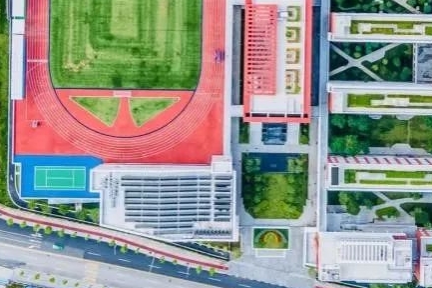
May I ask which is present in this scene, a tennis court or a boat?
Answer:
tennis court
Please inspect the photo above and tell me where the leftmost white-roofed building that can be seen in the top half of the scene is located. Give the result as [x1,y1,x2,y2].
[243,0,313,122]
